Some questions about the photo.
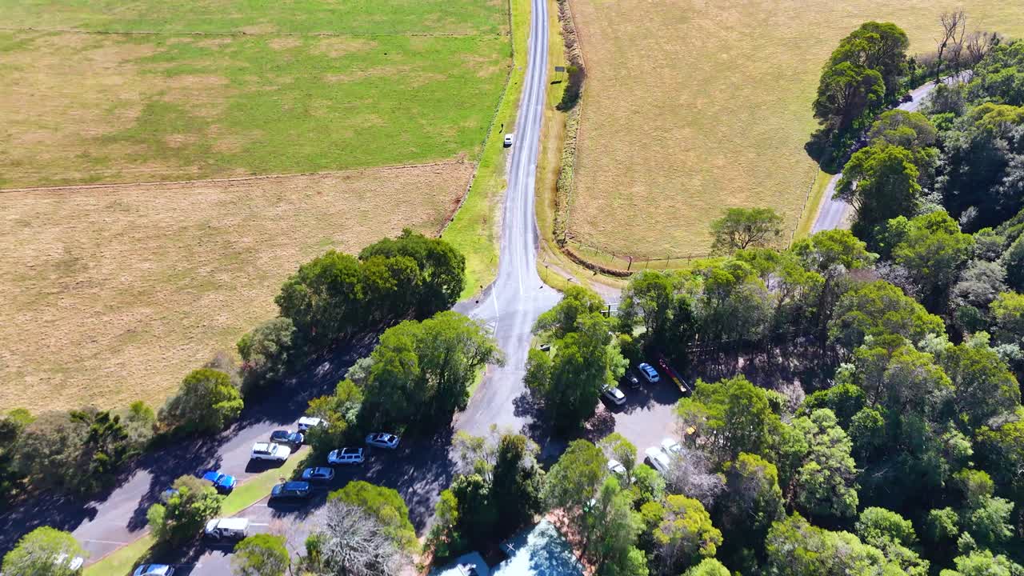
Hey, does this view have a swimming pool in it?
No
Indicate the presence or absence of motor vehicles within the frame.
Yes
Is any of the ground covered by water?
No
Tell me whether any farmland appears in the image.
Yes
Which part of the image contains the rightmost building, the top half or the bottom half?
bottom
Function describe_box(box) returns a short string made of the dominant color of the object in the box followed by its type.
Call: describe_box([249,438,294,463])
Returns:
white car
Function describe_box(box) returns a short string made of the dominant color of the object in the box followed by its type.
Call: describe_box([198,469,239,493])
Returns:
blue car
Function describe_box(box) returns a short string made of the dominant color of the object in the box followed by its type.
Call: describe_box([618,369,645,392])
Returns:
black car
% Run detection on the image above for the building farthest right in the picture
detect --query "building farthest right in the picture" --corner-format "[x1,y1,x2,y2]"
[487,519,598,576]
